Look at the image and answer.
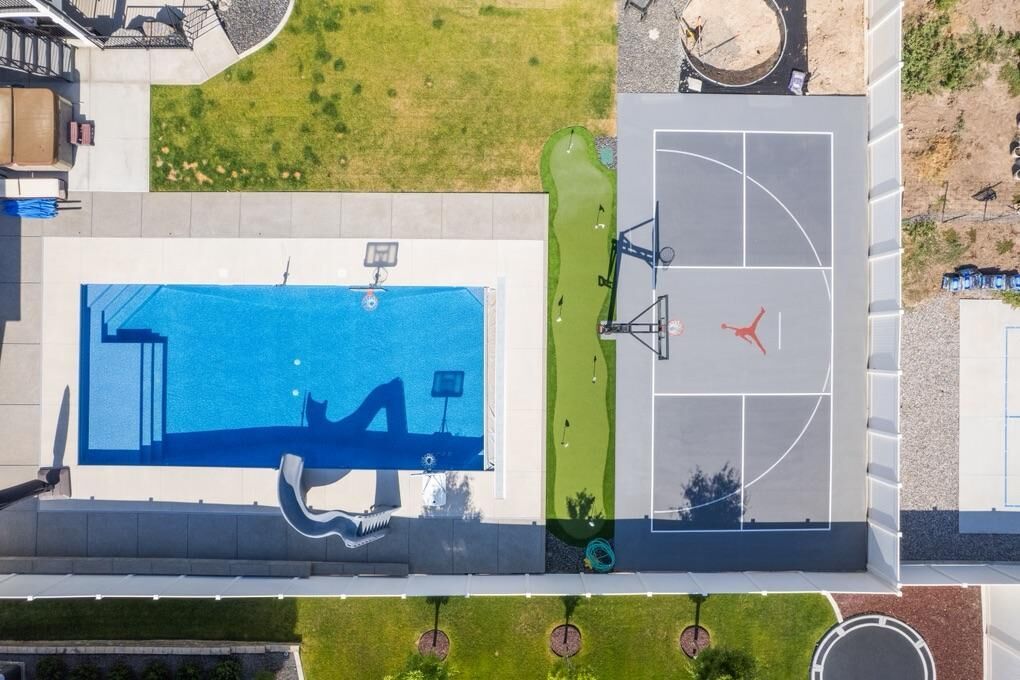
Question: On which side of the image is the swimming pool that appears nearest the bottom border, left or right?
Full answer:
The swimming pool that appears nearest the bottom border is on the left side of the image.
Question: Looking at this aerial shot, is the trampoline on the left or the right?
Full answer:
The trampoline sits on the right side.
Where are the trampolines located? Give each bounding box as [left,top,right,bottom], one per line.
[809,611,935,680]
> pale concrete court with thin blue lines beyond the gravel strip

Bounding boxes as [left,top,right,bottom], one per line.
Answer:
[960,301,1020,532]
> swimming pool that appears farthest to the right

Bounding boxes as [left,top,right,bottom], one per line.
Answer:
[77,268,505,499]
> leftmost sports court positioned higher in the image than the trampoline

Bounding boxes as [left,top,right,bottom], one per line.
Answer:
[616,93,867,573]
